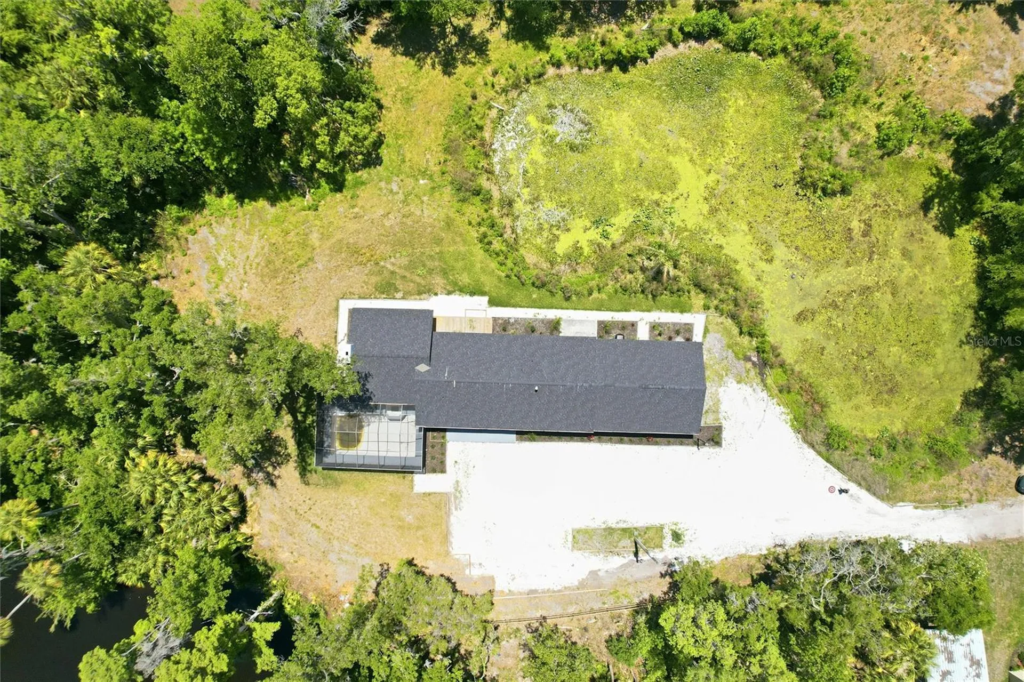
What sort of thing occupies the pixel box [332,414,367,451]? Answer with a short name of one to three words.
swimming pool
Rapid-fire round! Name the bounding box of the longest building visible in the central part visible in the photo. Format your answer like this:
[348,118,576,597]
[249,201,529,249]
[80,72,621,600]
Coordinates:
[344,307,706,434]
